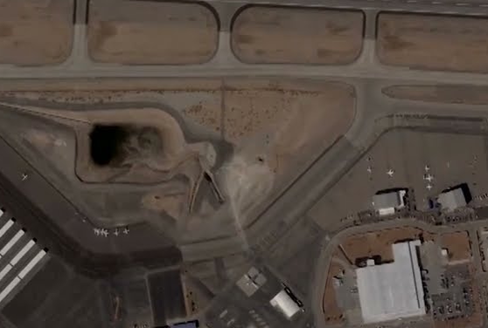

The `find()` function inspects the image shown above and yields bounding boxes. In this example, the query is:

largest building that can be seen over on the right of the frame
[357,241,427,325]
